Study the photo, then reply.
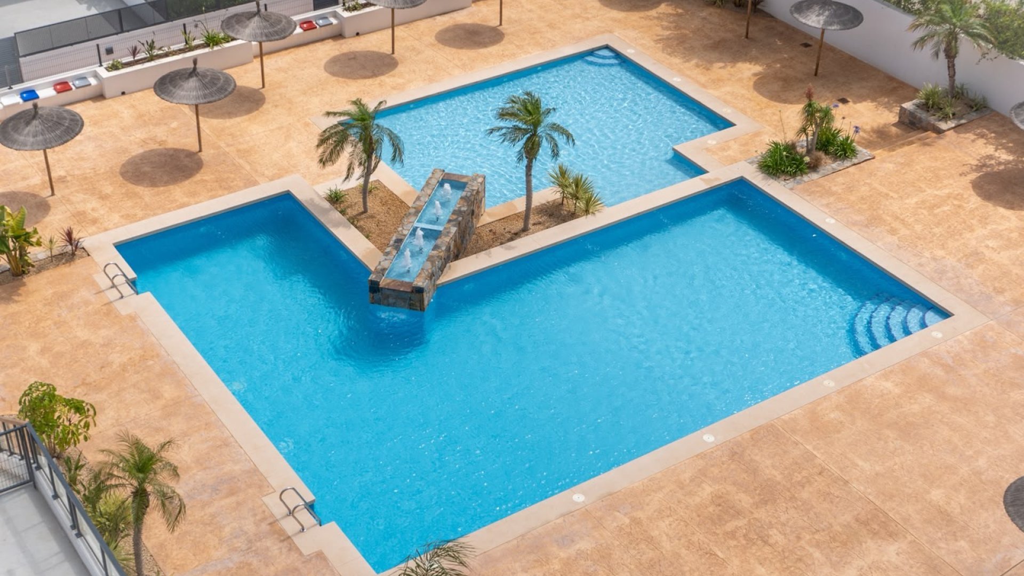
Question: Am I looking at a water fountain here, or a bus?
water fountain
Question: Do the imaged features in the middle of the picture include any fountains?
Yes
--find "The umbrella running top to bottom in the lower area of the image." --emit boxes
[998,467,1024,531]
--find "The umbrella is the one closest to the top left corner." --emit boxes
[0,97,85,195]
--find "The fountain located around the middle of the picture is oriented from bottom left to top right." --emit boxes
[367,167,486,318]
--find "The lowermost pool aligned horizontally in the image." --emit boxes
[81,160,991,576]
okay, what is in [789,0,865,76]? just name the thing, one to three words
umbrella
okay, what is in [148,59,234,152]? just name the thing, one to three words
umbrella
